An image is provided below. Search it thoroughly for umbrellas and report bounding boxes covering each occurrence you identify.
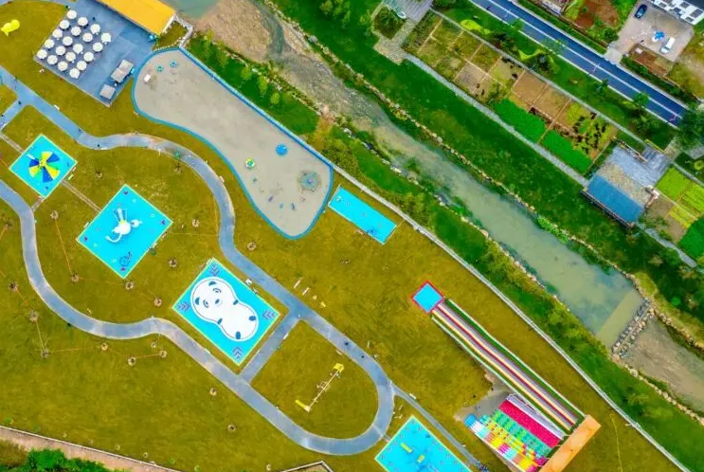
[60,20,71,32]
[53,29,63,41]
[78,17,88,30]
[56,46,66,58]
[58,62,69,74]
[84,52,95,65]
[67,10,78,23]
[83,33,93,45]
[93,43,104,55]
[71,27,82,38]
[101,33,112,46]
[62,37,73,48]
[47,56,58,67]
[45,40,55,51]
[90,24,101,36]
[37,50,48,62]
[69,69,80,81]
[66,52,77,65]
[73,44,84,57]
[76,61,87,73]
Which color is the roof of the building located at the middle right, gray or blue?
blue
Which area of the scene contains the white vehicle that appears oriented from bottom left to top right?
top right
